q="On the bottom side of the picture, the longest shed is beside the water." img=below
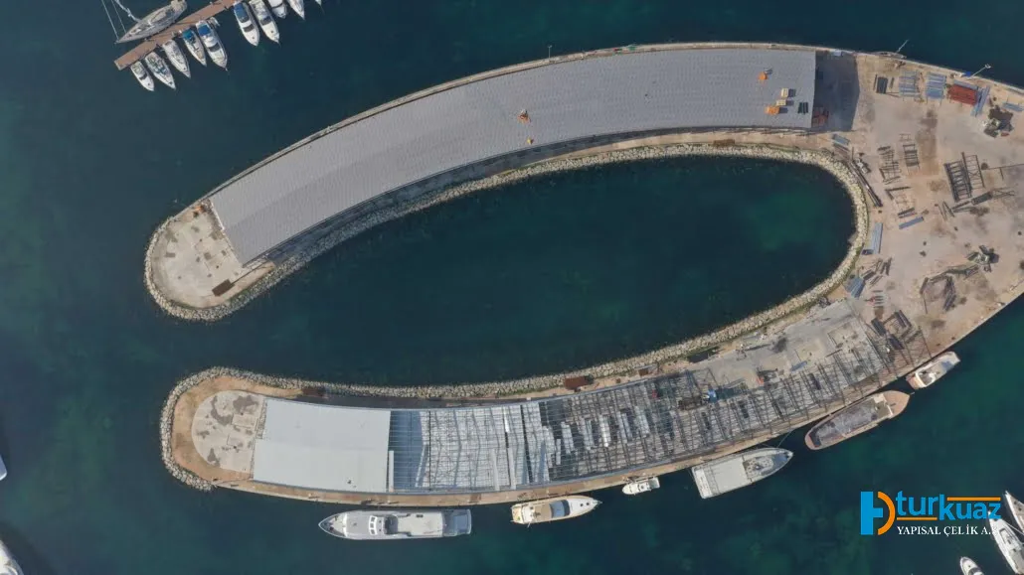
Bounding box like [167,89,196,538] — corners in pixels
[253,336,882,496]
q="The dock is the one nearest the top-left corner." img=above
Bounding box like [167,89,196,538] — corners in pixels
[114,0,250,71]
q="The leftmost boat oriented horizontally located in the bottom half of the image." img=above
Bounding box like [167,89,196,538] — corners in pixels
[319,508,472,540]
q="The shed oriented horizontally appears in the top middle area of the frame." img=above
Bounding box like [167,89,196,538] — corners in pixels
[209,45,815,269]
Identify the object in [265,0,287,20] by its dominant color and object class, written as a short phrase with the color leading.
white boat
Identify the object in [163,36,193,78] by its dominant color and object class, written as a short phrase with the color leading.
white boat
